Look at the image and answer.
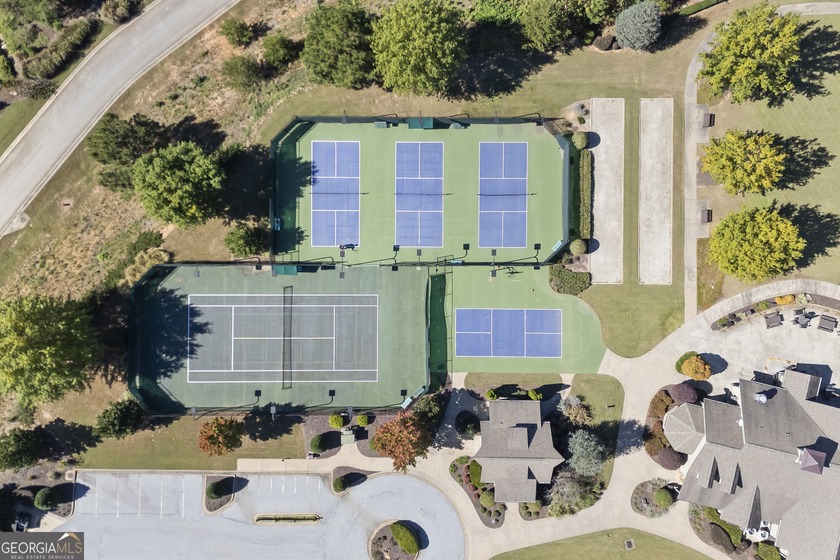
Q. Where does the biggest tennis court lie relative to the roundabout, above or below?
above it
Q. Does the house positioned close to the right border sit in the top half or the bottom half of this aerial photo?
bottom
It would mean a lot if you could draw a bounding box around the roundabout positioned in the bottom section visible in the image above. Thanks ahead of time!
[368,518,423,560]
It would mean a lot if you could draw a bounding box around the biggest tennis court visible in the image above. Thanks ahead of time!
[139,265,428,411]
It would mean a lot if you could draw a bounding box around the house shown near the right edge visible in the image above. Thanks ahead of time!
[662,369,840,560]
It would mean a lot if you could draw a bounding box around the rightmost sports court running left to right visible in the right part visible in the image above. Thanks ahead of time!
[456,308,562,357]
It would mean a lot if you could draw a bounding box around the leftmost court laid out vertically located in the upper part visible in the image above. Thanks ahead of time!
[312,141,360,247]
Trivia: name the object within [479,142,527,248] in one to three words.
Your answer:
sports court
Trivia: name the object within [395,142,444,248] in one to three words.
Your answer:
sports court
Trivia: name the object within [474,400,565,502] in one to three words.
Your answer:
building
